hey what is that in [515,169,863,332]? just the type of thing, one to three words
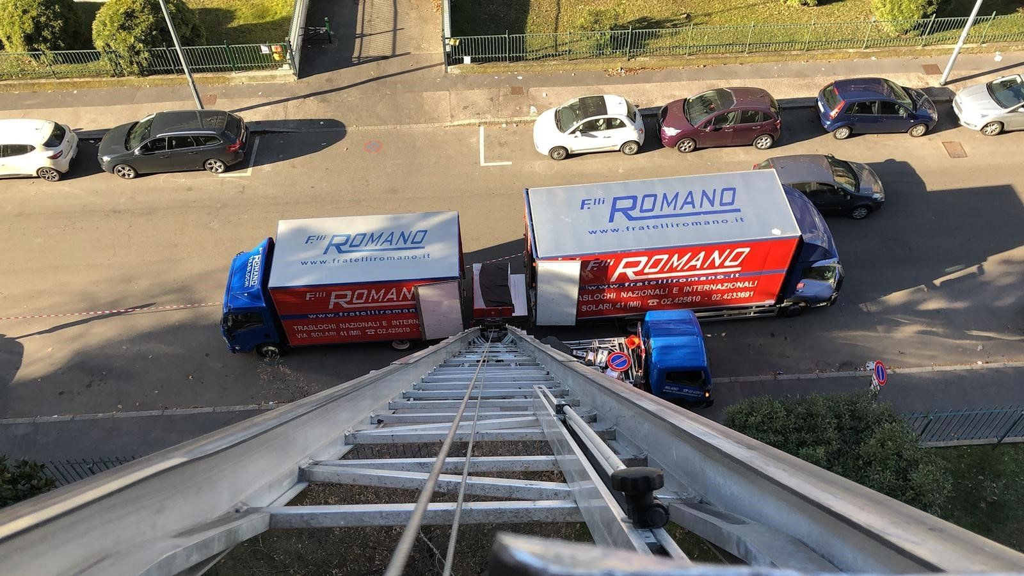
truck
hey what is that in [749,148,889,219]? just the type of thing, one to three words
car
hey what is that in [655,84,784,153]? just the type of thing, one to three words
car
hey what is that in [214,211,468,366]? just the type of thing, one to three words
truck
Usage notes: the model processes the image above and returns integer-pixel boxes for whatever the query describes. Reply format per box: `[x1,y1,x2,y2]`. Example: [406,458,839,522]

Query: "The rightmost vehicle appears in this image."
[953,71,1024,136]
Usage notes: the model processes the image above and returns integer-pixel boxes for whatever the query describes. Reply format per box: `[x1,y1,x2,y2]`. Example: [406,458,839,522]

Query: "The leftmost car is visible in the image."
[0,115,78,181]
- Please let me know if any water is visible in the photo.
No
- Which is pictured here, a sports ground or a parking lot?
parking lot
